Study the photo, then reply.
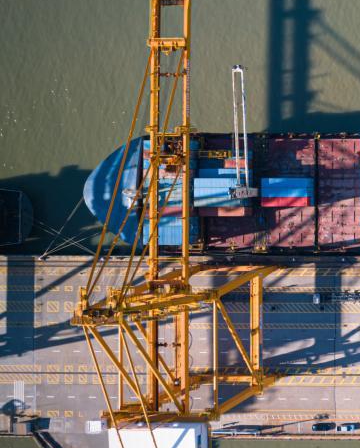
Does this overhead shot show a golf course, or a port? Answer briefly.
port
